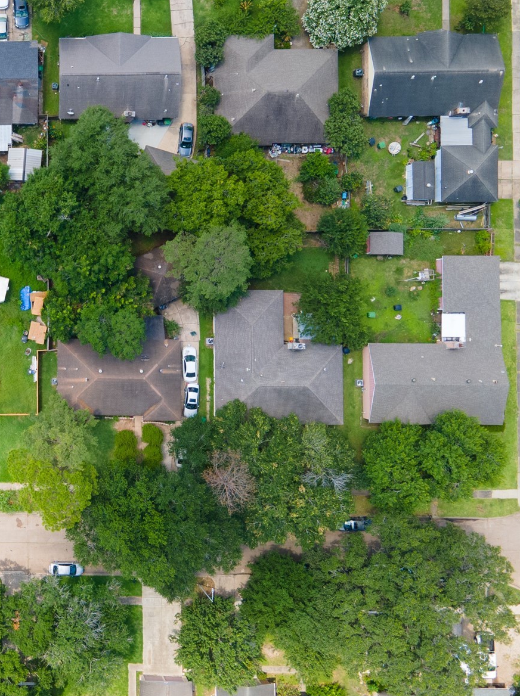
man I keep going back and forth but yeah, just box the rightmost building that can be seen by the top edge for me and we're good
[363,31,515,203]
